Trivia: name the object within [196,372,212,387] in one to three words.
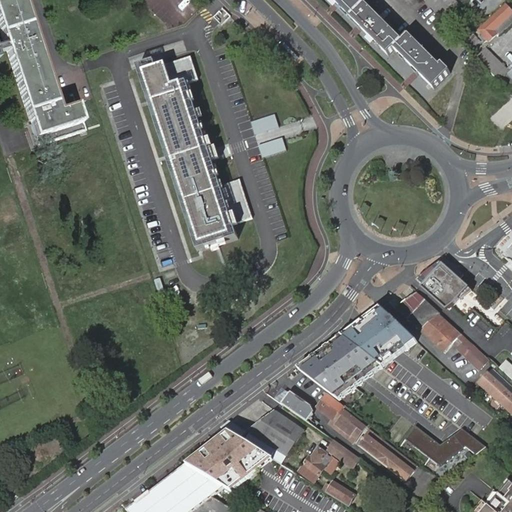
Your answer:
vehicle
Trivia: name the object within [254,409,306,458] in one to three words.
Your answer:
barn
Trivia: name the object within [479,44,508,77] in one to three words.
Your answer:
building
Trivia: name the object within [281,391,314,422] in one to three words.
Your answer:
house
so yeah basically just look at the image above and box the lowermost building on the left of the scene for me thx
[120,461,234,512]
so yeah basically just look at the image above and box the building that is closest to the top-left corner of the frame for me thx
[0,0,92,148]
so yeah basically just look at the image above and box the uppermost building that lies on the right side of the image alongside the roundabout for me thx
[332,0,450,93]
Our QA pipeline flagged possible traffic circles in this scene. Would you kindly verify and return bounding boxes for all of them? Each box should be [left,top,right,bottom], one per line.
[330,125,468,266]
